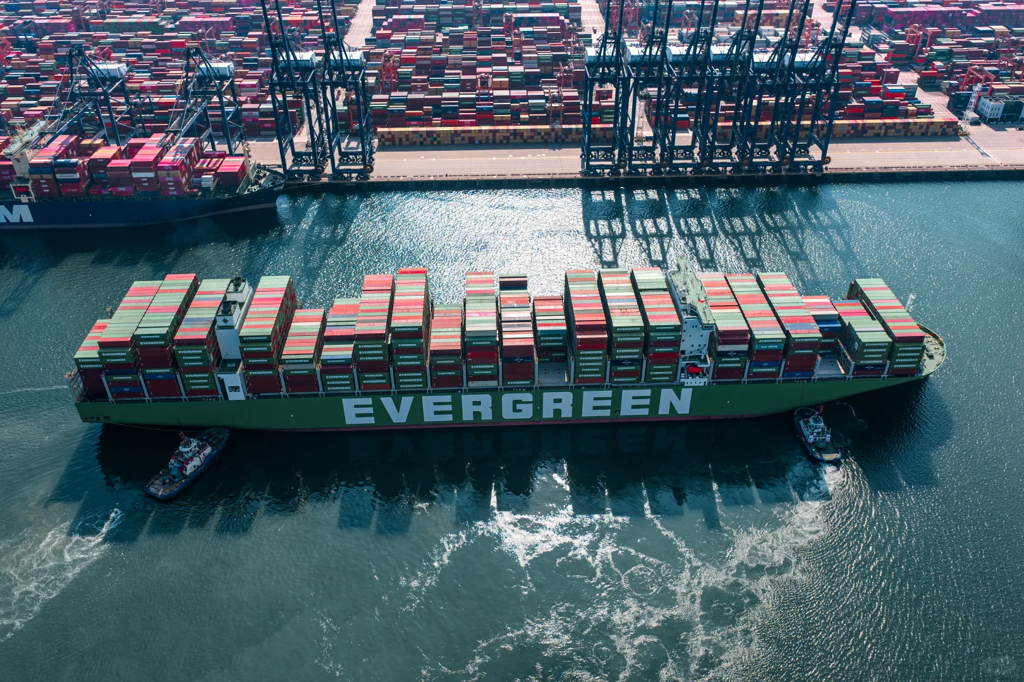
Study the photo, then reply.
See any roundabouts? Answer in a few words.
No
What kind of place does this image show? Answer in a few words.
port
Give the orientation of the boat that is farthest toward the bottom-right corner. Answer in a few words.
on a diagonal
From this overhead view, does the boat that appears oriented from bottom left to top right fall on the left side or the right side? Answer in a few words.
left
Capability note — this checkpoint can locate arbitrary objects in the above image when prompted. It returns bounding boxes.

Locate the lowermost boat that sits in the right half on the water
[788,408,852,467]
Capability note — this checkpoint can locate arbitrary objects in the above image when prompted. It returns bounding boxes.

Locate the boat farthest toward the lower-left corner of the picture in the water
[140,433,229,501]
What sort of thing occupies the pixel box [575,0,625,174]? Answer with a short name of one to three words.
container crane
